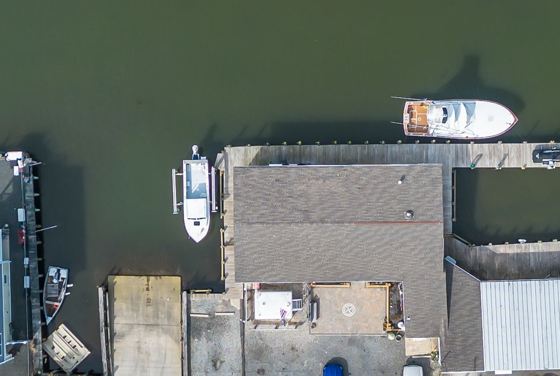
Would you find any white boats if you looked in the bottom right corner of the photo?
No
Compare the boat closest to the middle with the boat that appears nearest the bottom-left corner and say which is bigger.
the boat closest to the middle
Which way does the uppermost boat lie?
horizontally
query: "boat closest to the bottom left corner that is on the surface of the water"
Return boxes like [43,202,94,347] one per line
[44,264,73,321]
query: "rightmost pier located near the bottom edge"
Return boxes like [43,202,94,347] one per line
[45,324,91,370]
